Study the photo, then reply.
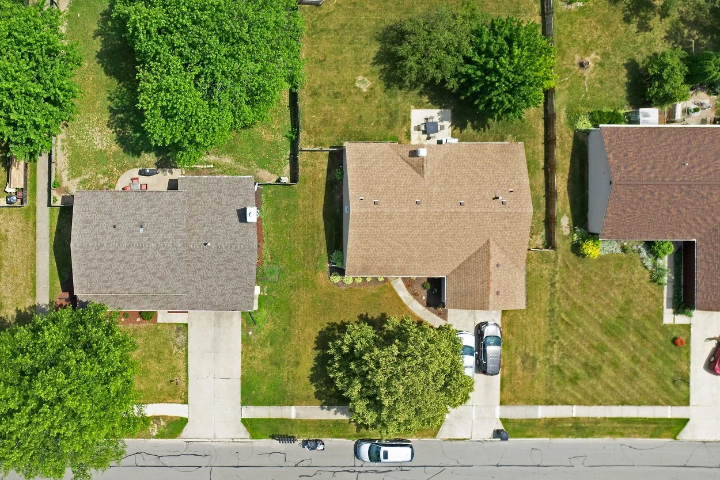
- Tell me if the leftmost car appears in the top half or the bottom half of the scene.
bottom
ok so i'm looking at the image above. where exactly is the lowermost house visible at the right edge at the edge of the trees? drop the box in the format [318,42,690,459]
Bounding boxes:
[589,124,720,311]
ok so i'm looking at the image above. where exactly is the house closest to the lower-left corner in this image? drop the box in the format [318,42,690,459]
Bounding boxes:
[70,175,260,311]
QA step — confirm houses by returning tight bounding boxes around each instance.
[343,142,533,311]
[70,175,260,311]
[589,124,720,311]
